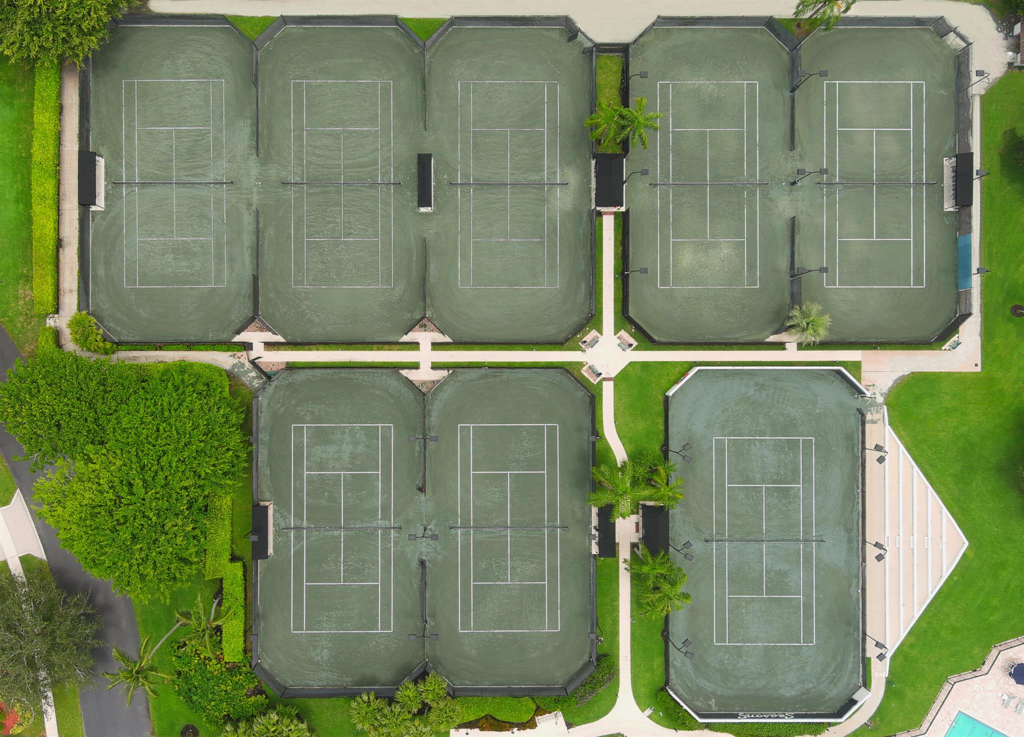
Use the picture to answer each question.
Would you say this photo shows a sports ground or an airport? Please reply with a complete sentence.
The area seen from above is a sports ground.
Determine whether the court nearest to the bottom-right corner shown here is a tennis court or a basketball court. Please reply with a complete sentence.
The court nearest to the bottom-right corner in the image is a tennis court.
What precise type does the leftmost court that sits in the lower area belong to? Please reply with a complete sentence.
The leftmost court that sits in the lower area is a tennis court.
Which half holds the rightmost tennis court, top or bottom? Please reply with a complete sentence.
The top half of the photo is where the rightmost tennis court is.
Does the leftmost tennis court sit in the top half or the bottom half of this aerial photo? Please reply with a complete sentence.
It is in the top half that the leftmost tennis court appears.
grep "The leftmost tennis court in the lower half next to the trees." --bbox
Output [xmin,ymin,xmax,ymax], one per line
[258,370,425,688]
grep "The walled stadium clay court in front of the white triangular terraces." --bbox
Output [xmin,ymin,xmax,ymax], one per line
[668,370,863,713]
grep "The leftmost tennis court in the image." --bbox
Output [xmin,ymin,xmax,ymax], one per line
[89,27,258,341]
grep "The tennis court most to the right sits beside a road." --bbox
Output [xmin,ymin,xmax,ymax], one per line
[793,26,960,343]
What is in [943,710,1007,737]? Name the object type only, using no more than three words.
swimming pool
